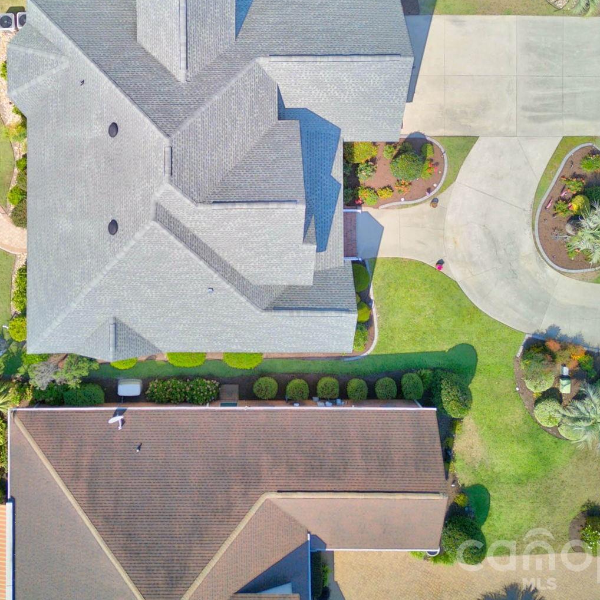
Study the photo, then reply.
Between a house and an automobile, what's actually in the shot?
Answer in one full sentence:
It is a house that can be seen here.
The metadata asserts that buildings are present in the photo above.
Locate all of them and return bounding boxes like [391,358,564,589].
[7,398,448,600]
[6,0,414,363]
